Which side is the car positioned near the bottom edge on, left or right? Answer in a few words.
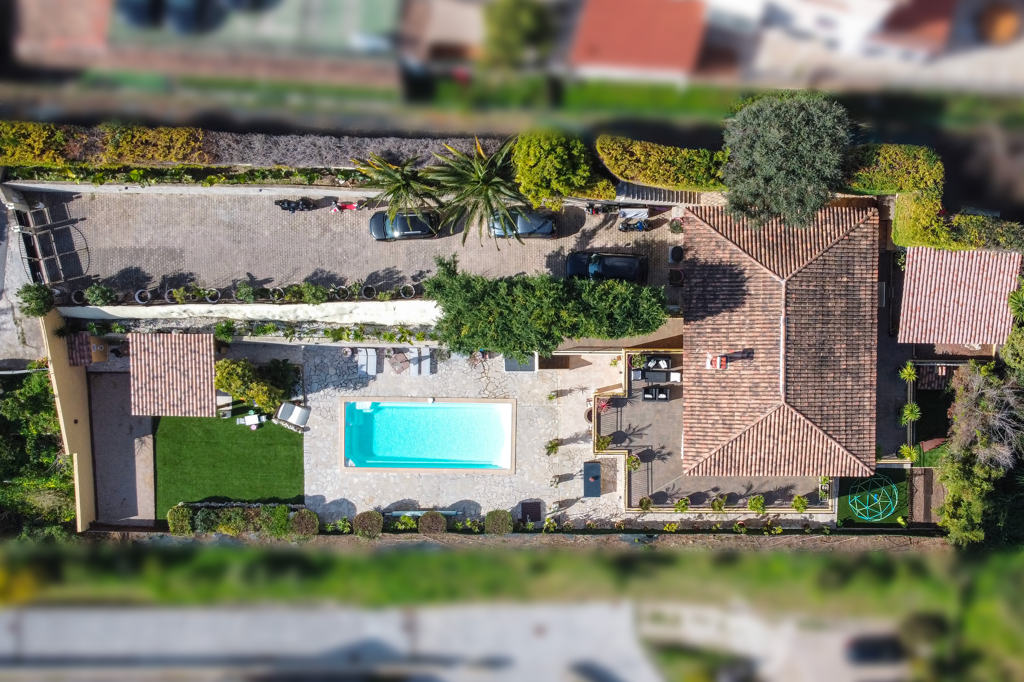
right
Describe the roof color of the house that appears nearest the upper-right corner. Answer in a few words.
red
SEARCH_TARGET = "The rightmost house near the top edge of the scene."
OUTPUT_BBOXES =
[854,0,953,79]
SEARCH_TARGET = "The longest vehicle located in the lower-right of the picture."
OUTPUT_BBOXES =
[828,628,898,666]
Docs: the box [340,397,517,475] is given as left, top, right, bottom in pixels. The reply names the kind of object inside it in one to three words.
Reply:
swimming pool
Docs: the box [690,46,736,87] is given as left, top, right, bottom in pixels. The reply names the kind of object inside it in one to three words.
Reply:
shed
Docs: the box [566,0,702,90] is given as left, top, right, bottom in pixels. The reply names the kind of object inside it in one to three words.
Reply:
house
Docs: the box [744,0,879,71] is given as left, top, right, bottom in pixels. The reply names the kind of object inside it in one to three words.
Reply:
building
